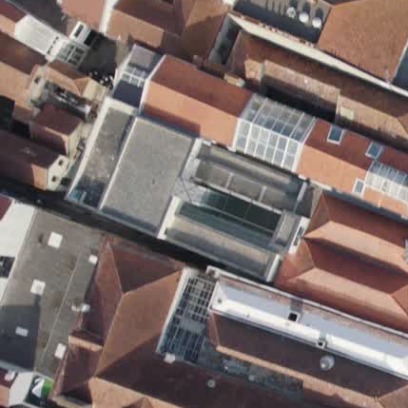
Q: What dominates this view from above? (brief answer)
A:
buildings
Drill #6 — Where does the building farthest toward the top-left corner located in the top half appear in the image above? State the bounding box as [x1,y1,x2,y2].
[0,0,36,34]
